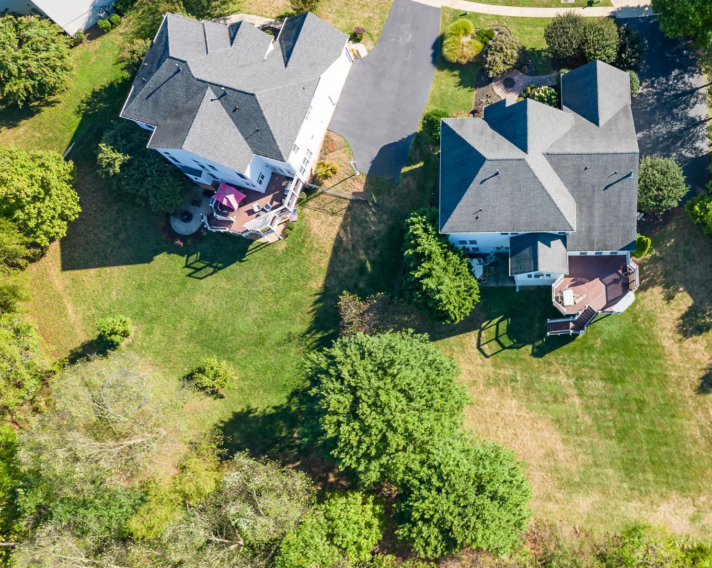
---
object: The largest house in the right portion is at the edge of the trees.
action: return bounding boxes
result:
[439,60,639,281]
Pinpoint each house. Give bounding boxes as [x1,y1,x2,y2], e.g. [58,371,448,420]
[439,60,639,281]
[119,12,352,192]
[32,0,113,35]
